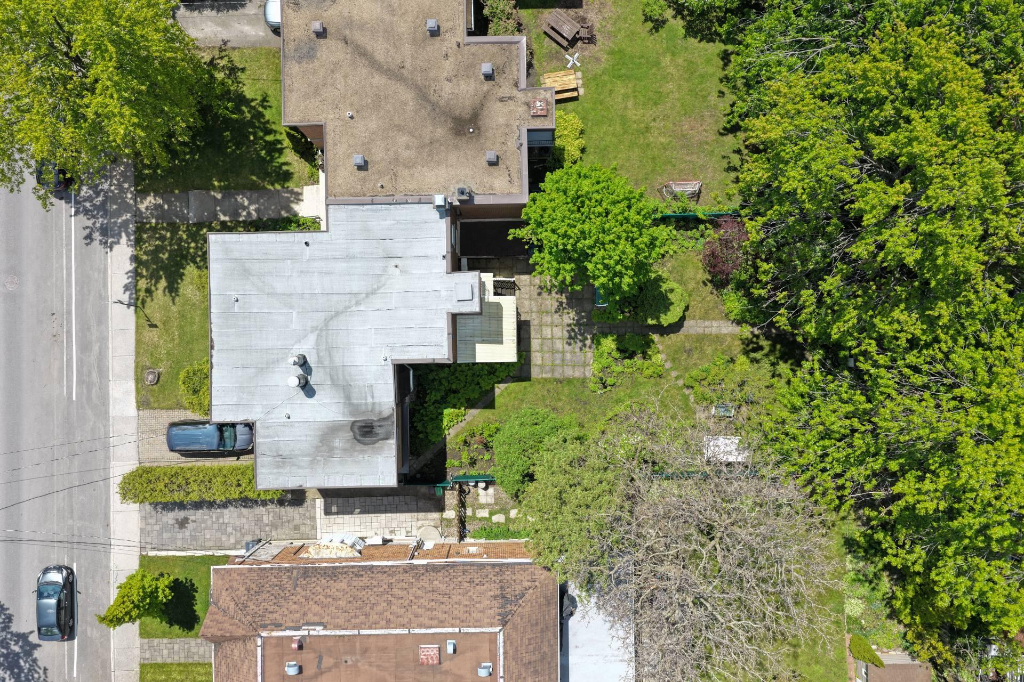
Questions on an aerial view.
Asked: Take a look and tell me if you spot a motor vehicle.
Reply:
Yes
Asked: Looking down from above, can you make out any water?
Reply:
No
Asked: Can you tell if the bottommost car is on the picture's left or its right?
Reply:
left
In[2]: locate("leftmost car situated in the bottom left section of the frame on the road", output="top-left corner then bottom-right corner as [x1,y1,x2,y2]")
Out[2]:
[32,562,78,642]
